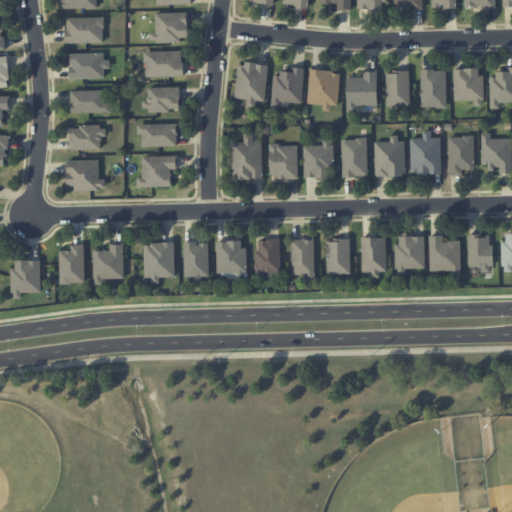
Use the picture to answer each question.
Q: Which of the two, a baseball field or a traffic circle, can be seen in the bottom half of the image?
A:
baseball field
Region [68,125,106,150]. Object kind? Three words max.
house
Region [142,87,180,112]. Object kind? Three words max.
house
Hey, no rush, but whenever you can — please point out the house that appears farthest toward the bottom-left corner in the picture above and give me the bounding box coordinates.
[10,260,42,299]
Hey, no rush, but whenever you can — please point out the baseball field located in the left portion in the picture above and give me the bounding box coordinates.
[0,400,62,512]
